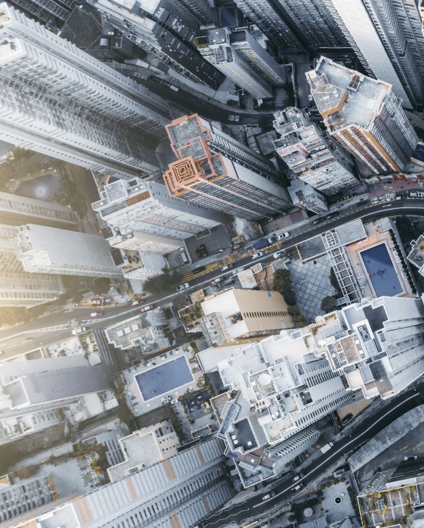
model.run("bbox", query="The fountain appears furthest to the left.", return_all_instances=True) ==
[29,180,51,199]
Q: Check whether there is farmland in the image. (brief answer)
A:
No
